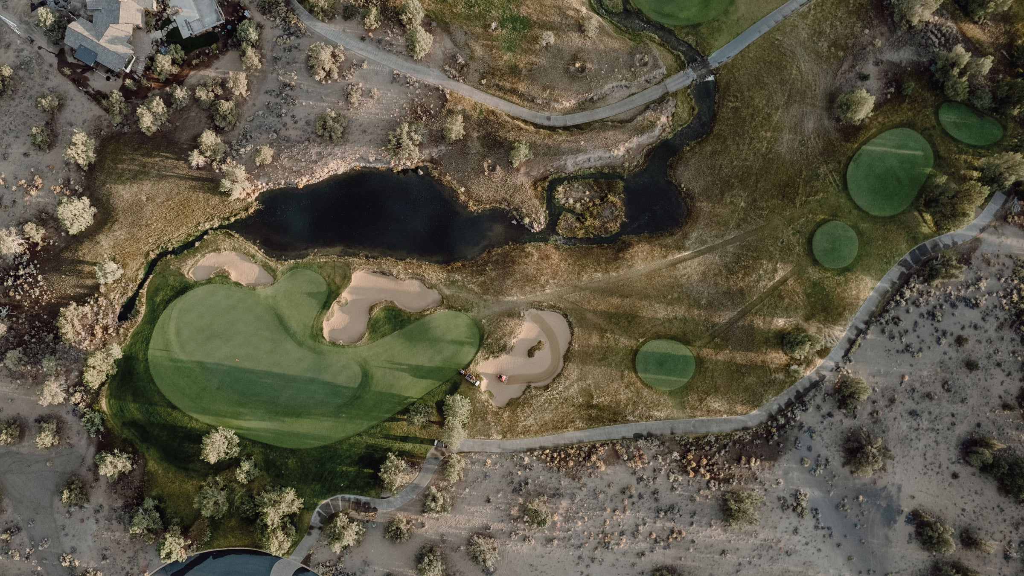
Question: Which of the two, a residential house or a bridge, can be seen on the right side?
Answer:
bridge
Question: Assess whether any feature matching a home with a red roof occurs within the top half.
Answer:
No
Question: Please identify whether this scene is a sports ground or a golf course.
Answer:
golf course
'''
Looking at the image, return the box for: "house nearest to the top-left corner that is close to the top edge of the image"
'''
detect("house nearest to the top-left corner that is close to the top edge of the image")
[64,0,158,74]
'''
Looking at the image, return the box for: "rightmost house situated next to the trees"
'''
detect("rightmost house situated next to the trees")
[170,0,226,39]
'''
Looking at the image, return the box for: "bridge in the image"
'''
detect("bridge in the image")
[685,55,717,87]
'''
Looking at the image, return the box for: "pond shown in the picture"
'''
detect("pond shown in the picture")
[120,81,714,319]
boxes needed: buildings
[170,0,226,39]
[64,0,158,74]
